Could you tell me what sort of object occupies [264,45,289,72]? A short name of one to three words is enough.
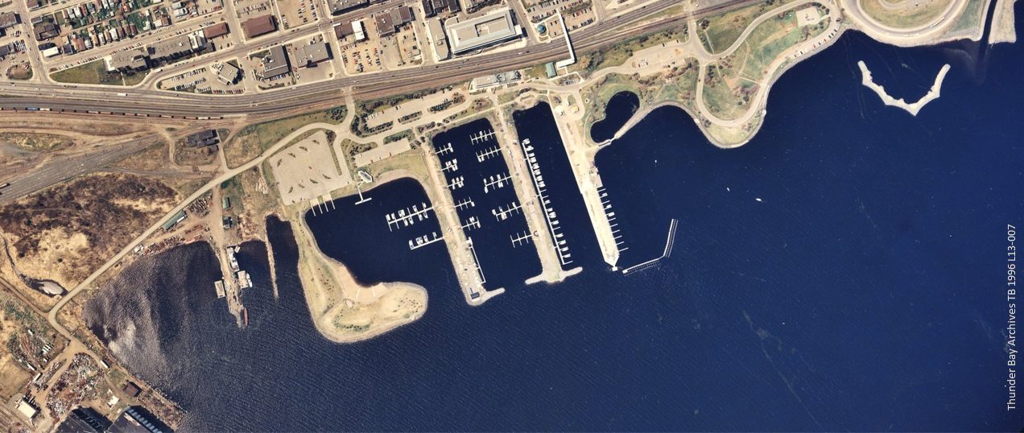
building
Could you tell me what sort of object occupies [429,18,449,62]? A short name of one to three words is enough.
building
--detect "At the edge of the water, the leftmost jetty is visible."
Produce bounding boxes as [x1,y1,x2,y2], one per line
[211,243,244,327]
